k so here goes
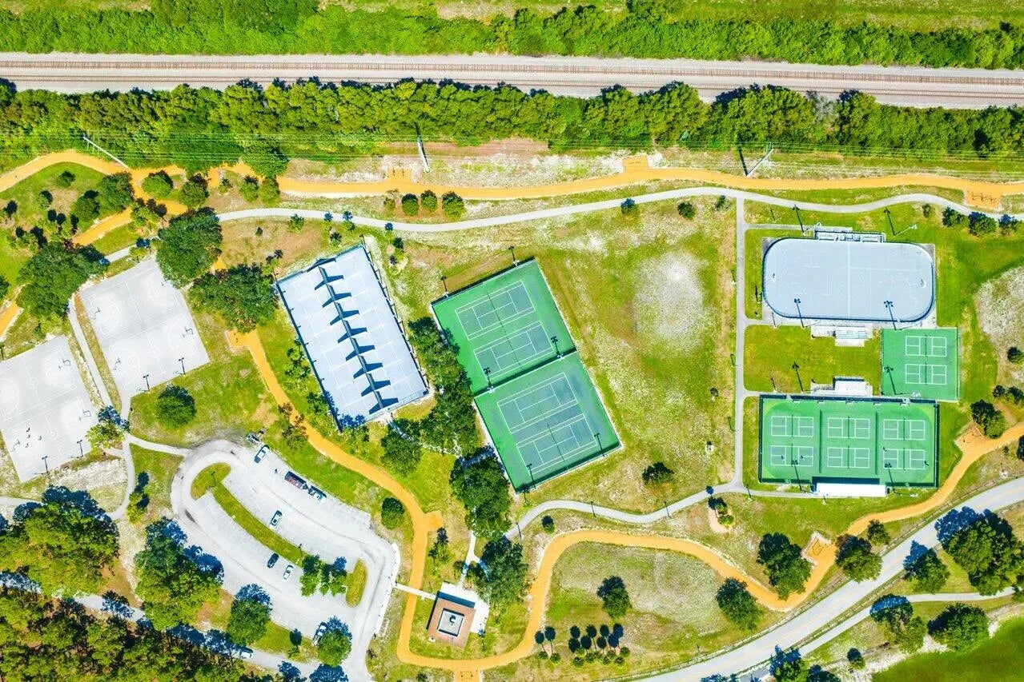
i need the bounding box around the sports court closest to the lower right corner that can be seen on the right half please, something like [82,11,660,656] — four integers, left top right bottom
[876,442,939,487]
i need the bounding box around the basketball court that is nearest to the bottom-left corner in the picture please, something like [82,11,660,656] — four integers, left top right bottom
[0,391,105,483]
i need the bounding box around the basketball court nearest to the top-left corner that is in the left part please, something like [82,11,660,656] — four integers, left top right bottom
[81,257,183,345]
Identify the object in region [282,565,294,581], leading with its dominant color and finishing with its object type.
white vehicle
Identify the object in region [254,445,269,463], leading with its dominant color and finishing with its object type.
white vehicle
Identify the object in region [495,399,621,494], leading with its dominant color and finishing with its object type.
green tennis court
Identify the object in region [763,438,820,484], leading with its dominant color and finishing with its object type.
green sports court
